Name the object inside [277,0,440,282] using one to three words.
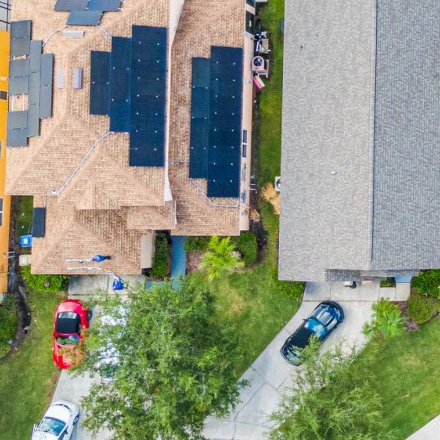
house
